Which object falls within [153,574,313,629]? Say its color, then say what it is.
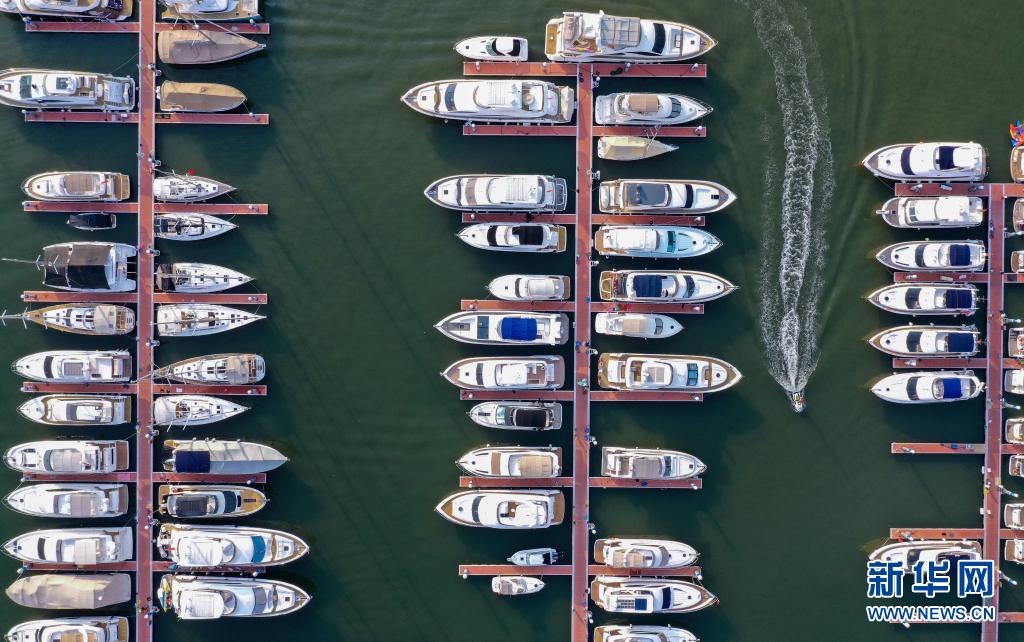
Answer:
white boat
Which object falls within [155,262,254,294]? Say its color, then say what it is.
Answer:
white boat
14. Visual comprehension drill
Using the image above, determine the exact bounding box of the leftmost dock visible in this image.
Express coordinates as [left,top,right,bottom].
[23,0,270,642]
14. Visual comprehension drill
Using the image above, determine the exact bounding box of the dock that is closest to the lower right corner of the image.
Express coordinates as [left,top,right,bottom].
[888,182,1024,642]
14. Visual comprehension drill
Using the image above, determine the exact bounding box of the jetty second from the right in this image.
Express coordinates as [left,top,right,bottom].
[459,61,706,642]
